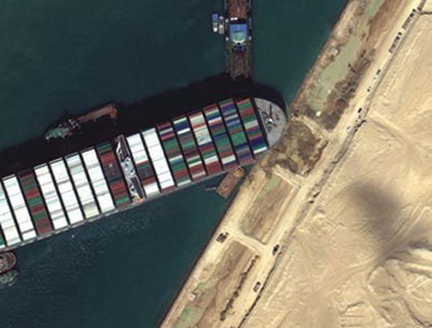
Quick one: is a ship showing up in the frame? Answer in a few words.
Yes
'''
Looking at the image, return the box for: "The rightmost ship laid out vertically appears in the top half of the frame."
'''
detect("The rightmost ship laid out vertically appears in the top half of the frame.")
[226,0,252,78]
